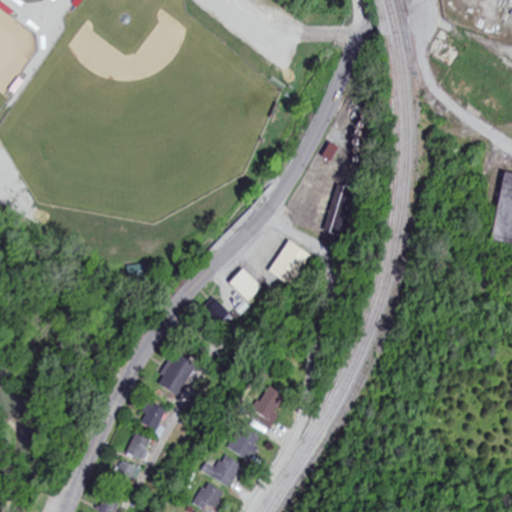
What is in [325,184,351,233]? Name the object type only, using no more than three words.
barn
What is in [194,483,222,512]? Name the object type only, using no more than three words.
house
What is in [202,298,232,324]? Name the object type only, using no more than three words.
house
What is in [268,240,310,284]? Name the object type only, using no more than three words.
building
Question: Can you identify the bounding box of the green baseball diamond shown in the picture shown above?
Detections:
[0,0,282,225]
